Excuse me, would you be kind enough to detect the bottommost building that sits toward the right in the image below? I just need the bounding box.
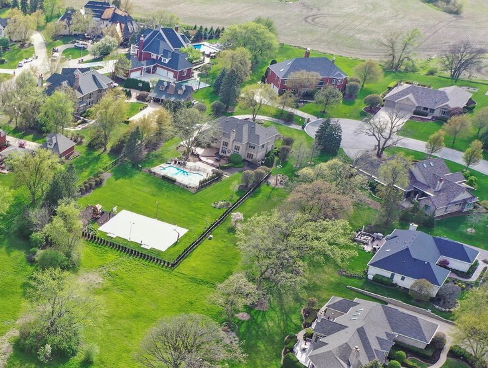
[298,302,440,368]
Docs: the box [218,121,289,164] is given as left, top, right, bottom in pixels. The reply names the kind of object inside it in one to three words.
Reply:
house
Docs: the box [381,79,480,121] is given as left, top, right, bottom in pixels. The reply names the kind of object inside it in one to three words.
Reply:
house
